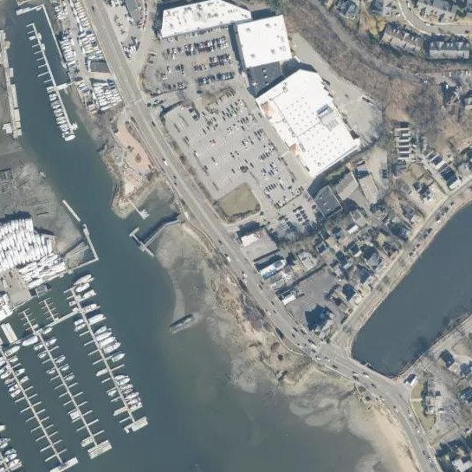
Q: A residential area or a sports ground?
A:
residential area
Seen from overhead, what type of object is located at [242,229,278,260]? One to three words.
building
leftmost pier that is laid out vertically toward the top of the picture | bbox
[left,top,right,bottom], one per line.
[0,31,22,136]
